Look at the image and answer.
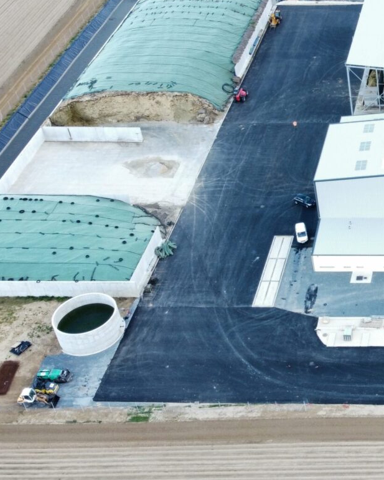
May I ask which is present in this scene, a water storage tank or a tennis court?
water storage tank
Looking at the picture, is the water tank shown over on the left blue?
No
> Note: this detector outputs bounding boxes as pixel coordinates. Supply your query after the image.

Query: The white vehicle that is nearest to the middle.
[294,221,307,242]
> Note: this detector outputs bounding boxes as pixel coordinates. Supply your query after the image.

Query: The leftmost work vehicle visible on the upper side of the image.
[233,85,246,105]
